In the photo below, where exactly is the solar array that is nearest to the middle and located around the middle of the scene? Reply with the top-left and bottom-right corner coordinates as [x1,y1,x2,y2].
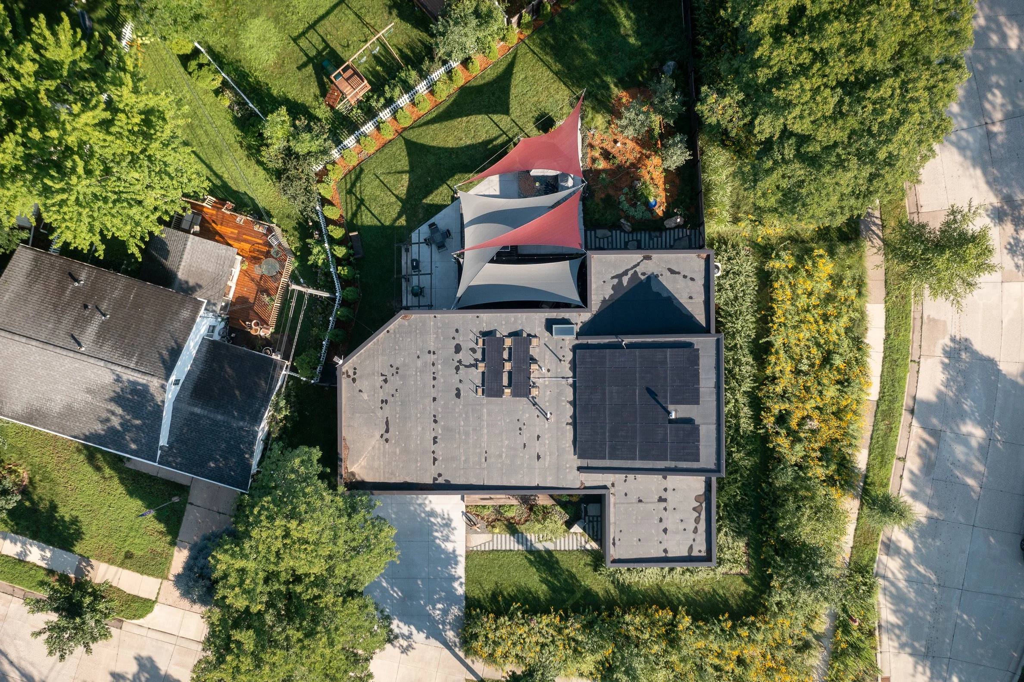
[477,337,539,397]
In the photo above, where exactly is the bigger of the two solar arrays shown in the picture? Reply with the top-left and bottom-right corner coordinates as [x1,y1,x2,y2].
[576,350,698,463]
